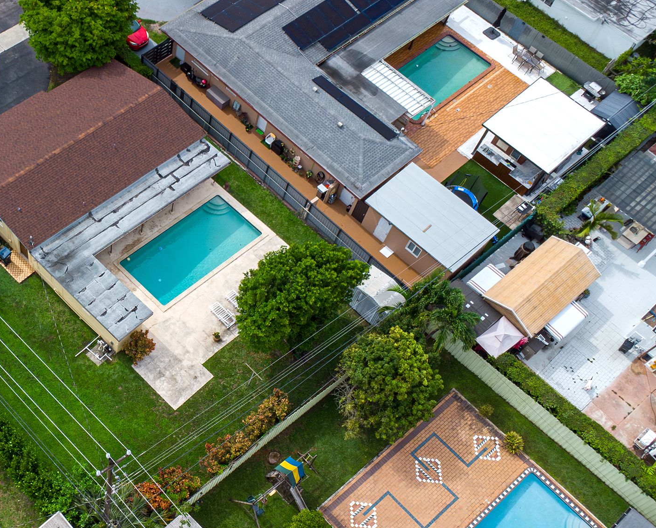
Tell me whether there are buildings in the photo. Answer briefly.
Yes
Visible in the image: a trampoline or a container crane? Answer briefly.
trampoline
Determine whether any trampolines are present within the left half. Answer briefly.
No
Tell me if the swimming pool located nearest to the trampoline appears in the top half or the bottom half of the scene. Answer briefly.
top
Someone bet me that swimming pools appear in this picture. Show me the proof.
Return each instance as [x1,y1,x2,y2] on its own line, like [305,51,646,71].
[374,30,496,124]
[465,465,599,528]
[114,189,268,310]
